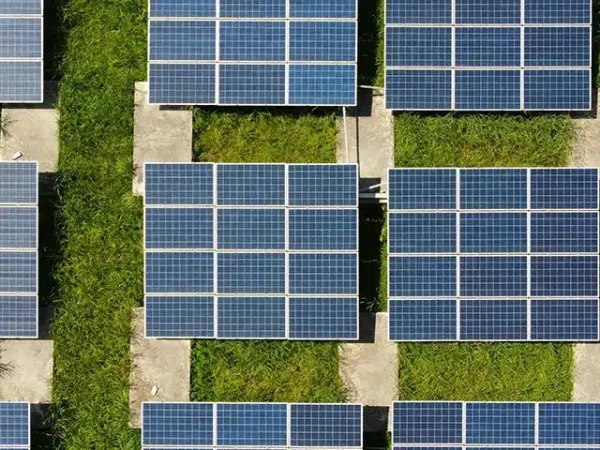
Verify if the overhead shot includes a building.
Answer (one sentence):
No, no building is visible in the view.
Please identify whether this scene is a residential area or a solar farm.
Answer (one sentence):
This looks like a solar farm.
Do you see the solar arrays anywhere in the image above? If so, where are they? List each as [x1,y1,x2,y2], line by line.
[0,0,45,103]
[148,0,358,106]
[384,0,591,111]
[0,400,31,450]
[144,162,359,339]
[387,168,599,341]
[391,401,600,450]
[0,161,39,338]
[141,401,363,450]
